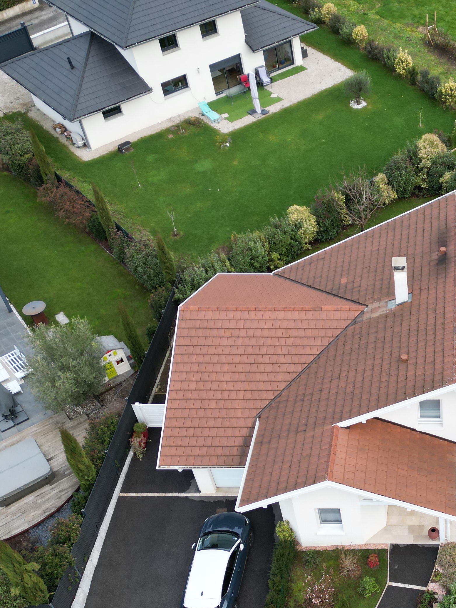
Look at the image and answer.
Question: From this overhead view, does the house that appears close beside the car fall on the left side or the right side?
right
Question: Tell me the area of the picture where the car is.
bottom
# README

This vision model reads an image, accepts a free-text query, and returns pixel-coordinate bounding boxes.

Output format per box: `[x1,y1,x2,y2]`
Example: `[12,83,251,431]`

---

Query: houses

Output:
[155,189,456,544]
[0,0,321,149]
